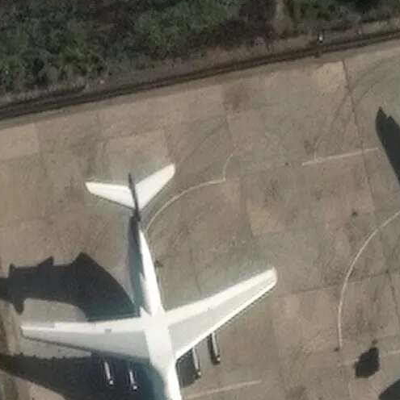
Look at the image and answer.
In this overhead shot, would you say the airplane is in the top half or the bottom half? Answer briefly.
bottom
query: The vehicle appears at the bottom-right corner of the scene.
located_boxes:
[361,348,381,373]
